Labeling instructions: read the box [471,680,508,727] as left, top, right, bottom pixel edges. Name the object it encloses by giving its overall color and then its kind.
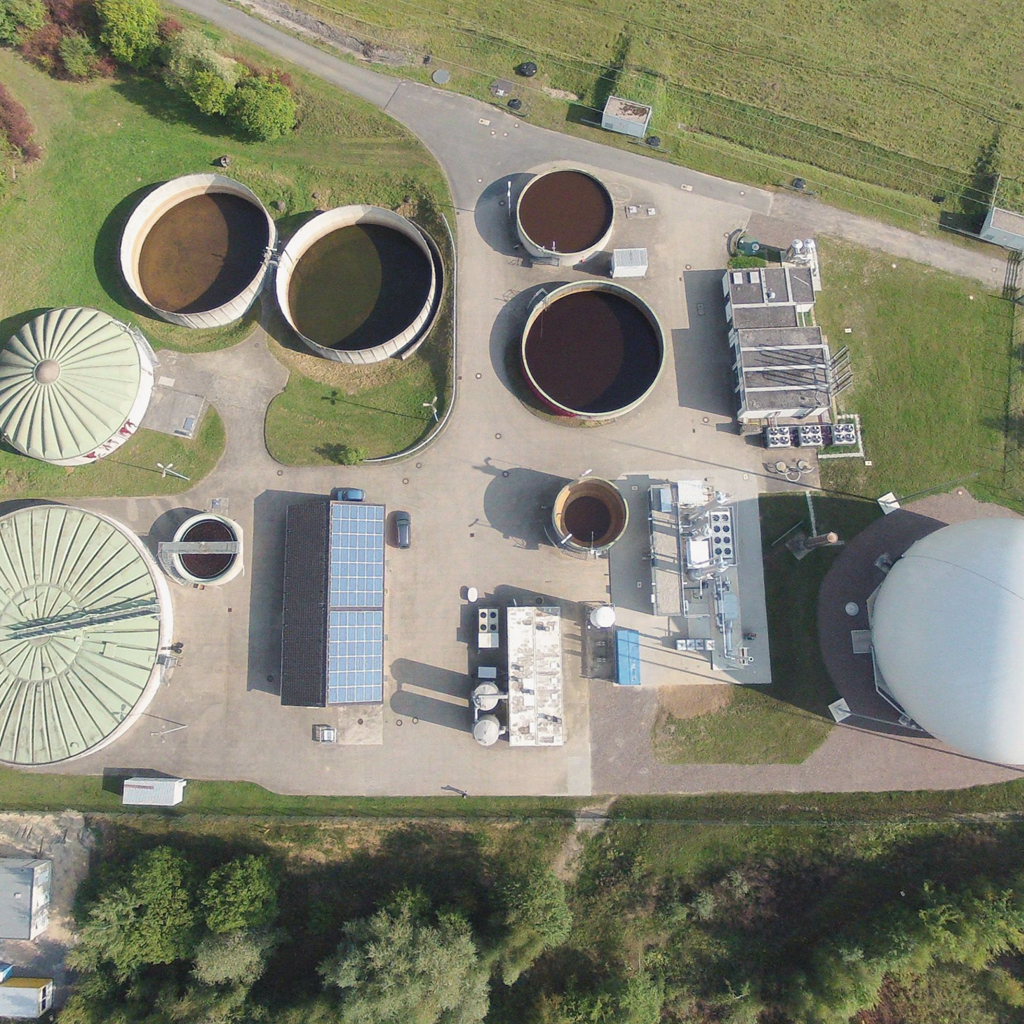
white silo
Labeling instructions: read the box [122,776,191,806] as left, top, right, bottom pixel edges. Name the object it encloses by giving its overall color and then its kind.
white shipping container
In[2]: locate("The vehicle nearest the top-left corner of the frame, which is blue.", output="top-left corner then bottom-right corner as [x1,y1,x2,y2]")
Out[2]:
[337,488,367,503]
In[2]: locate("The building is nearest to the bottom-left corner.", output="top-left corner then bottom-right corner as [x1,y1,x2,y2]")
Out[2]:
[0,975,56,1018]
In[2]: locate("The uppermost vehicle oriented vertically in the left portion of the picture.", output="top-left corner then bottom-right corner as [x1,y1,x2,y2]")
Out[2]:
[393,512,411,550]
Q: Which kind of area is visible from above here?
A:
industrial area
